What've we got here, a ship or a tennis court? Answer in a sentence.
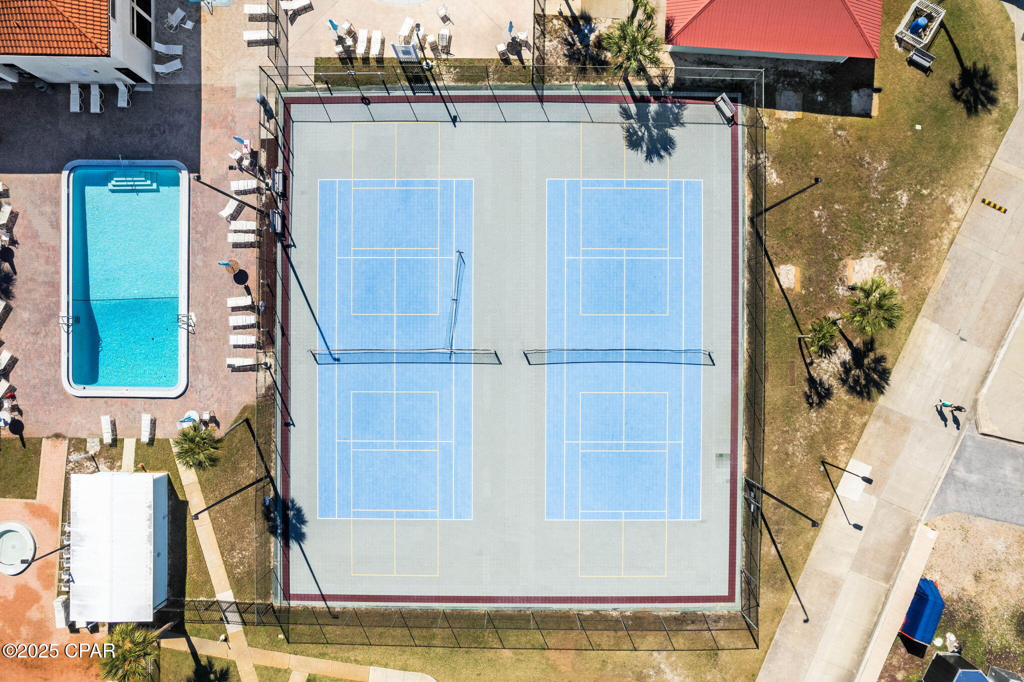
The one in the frame is a tennis court.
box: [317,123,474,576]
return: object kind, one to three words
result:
tennis court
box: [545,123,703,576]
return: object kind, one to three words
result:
tennis court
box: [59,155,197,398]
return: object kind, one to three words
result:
swimming pool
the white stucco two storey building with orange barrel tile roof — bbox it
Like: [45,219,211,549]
[0,0,156,93]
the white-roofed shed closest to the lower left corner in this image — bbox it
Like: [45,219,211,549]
[71,472,169,623]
